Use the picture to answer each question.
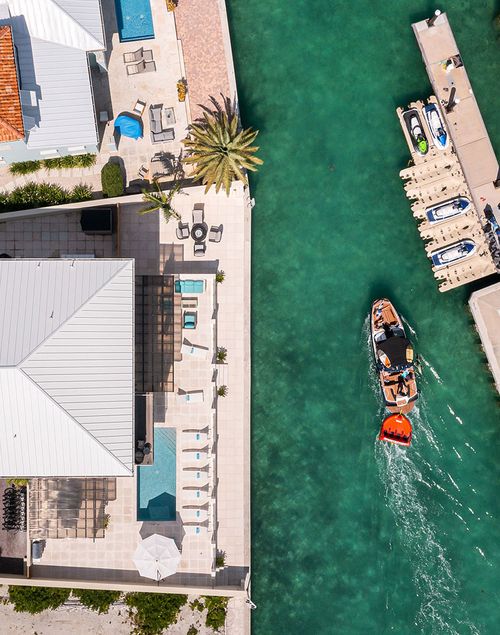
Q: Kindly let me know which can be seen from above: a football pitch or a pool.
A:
pool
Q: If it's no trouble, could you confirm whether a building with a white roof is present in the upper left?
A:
Yes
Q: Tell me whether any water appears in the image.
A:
Yes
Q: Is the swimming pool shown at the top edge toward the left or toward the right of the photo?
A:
left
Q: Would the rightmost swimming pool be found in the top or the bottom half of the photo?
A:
bottom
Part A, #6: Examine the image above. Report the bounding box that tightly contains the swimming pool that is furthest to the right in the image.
[137,428,176,522]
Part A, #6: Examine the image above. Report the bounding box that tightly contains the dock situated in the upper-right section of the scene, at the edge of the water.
[411,14,500,272]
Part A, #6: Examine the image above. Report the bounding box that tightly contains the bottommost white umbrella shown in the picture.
[133,530,182,582]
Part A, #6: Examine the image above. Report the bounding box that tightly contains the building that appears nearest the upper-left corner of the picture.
[0,0,108,164]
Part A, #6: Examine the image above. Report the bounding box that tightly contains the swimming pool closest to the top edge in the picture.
[113,0,158,47]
